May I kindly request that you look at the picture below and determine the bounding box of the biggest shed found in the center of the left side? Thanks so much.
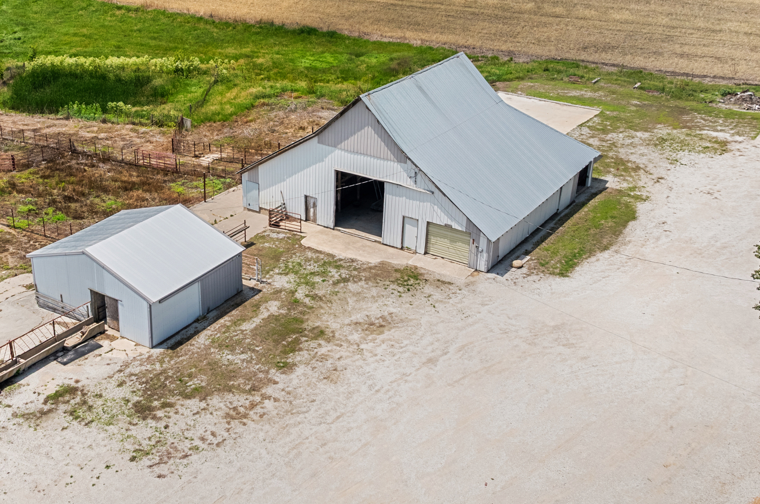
[25,202,247,349]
